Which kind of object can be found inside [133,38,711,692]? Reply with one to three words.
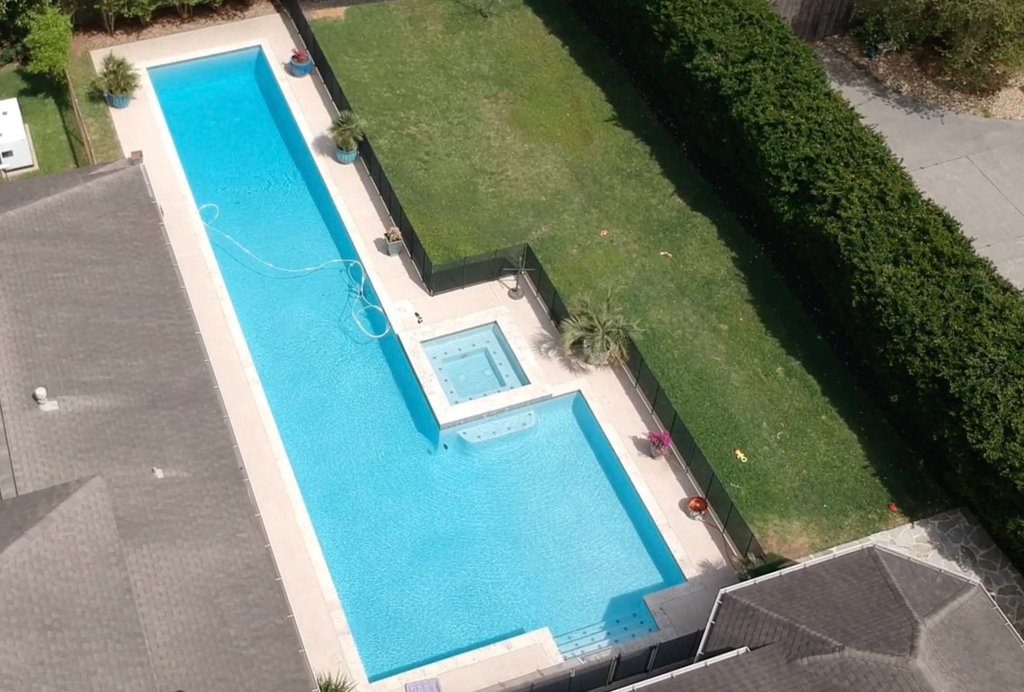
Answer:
swimming pool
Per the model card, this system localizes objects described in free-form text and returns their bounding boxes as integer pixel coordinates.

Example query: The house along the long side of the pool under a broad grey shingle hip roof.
[0,157,321,692]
